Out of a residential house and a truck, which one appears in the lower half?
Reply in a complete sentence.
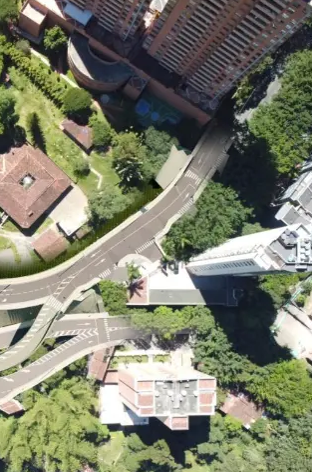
It is a residential house that can be seen in the lower half.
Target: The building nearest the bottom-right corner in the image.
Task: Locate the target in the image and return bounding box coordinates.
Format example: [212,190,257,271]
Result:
[221,396,264,425]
